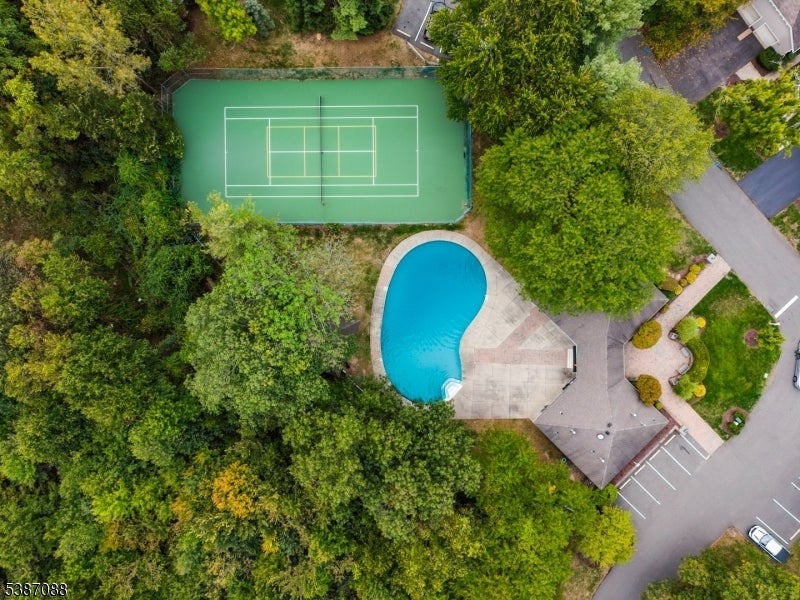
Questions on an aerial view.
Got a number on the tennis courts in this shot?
one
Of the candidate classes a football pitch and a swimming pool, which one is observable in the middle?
swimming pool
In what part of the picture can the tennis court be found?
top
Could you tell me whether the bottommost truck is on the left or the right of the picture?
right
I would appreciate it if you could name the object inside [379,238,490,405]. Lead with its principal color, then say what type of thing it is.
blue swimming pool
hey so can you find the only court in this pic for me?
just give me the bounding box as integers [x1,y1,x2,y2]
[173,79,466,223]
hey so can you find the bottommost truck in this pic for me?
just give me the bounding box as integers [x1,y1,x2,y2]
[745,523,792,566]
